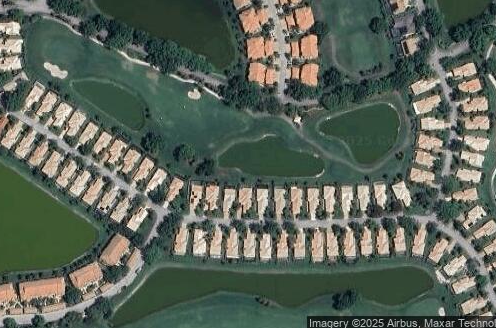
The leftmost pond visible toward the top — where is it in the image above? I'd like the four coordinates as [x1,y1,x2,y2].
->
[71,80,145,129]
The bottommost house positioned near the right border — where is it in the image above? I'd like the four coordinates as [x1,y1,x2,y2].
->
[472,308,496,328]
